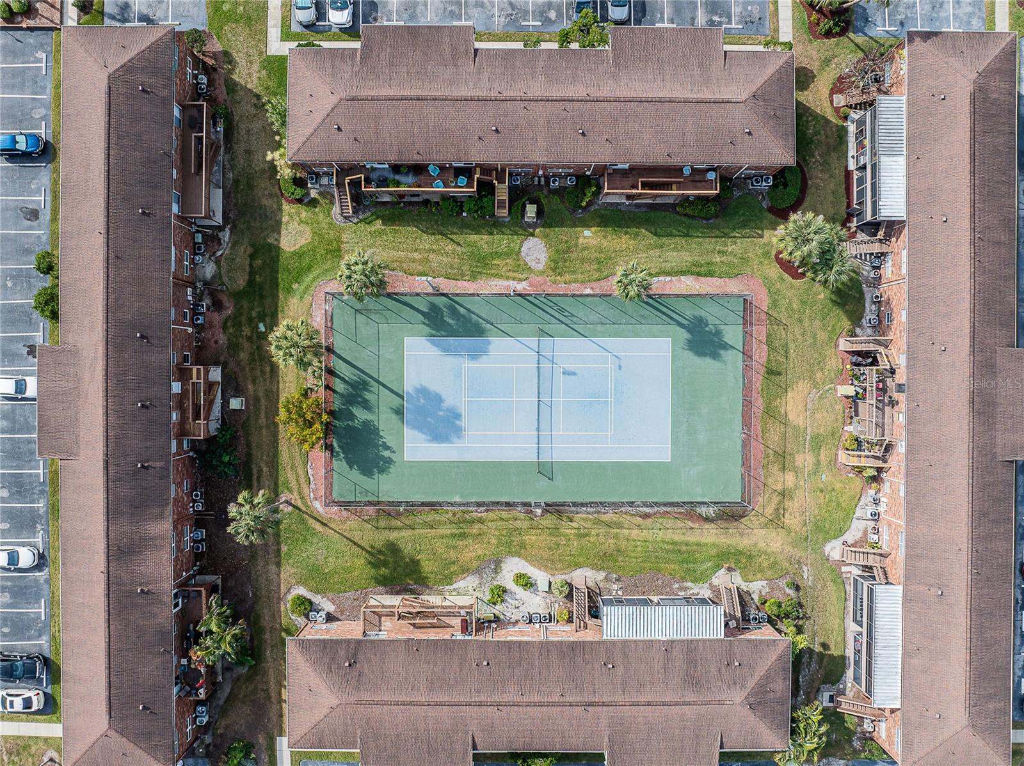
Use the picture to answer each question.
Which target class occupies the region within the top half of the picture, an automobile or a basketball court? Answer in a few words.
automobile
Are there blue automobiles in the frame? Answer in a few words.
Yes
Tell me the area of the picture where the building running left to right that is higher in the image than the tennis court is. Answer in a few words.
top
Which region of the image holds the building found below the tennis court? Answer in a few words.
bottom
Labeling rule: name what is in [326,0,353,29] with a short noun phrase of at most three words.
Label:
car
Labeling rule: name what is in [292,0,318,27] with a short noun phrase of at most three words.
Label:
car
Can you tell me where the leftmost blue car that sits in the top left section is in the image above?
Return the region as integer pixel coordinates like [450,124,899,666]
[0,129,47,157]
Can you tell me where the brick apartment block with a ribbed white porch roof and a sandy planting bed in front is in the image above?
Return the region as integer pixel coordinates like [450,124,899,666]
[286,573,792,766]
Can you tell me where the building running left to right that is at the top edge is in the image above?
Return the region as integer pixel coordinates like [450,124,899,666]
[287,24,796,218]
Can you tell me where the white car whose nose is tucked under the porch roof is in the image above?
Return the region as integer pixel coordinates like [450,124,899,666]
[0,375,35,400]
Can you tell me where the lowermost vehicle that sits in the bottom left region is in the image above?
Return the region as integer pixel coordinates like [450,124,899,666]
[0,688,45,716]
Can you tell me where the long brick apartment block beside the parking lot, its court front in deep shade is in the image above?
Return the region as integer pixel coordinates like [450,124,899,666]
[35,25,224,766]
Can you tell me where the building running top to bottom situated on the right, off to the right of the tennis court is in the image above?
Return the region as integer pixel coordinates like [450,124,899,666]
[823,30,1024,766]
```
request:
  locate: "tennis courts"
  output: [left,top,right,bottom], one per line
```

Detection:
[332,297,744,502]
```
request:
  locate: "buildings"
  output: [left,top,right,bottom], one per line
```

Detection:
[823,30,1024,766]
[286,573,792,766]
[35,25,224,766]
[287,24,796,218]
